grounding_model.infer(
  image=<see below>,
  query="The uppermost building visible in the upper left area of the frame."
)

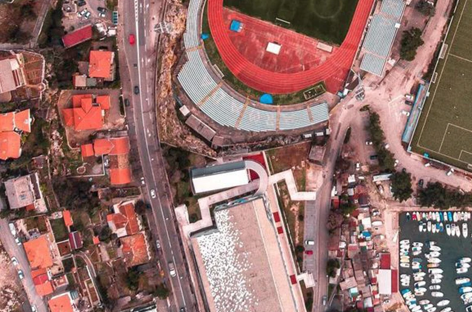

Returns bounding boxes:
[63,26,96,45]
